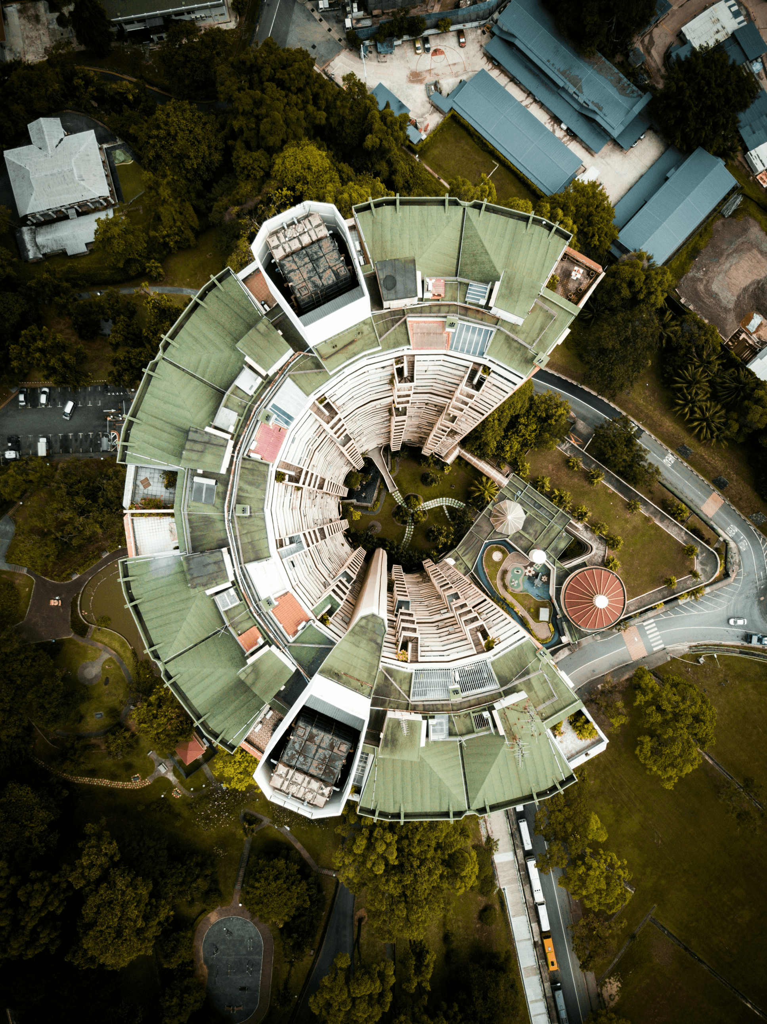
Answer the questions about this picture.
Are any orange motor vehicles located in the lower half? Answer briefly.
Yes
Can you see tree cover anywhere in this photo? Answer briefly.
Yes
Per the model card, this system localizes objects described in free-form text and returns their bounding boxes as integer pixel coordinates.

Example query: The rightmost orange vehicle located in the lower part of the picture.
[540,931,559,971]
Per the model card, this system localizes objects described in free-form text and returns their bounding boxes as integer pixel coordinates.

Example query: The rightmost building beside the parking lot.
[115,193,609,825]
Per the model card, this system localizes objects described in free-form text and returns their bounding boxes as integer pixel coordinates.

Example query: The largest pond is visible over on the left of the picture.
[80,562,160,672]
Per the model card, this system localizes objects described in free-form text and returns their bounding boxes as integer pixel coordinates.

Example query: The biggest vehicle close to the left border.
[37,438,50,457]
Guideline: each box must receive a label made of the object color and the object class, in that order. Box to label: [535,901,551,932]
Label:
white vehicle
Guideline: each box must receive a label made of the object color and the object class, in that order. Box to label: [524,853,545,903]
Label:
white bus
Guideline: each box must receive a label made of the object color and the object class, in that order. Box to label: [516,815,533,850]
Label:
white vehicle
